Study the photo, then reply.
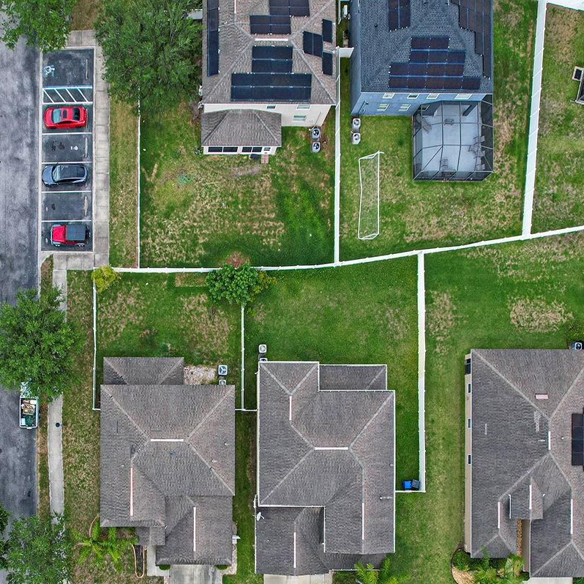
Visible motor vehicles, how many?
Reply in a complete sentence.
Looking from above, you can make out 4 motor vehicles.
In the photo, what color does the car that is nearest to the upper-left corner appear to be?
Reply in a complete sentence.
The car that is nearest to the upper-left corner is red.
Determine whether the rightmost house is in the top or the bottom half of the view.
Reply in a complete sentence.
The bottom half of the photo is where the rightmost house is.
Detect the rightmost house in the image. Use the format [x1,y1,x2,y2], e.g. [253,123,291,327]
[465,349,584,577]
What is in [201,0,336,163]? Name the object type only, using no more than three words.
house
